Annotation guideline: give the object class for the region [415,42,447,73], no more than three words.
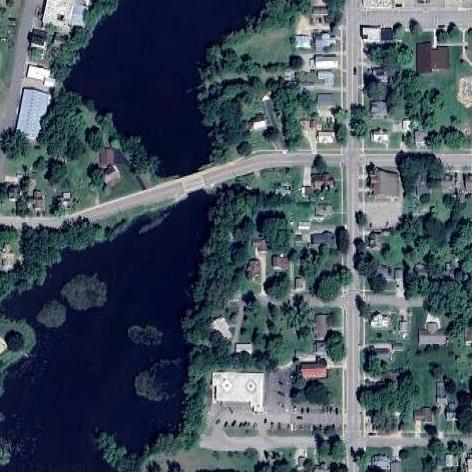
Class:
building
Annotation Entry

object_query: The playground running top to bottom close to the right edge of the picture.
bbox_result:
[456,73,472,107]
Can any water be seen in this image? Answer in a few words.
Yes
